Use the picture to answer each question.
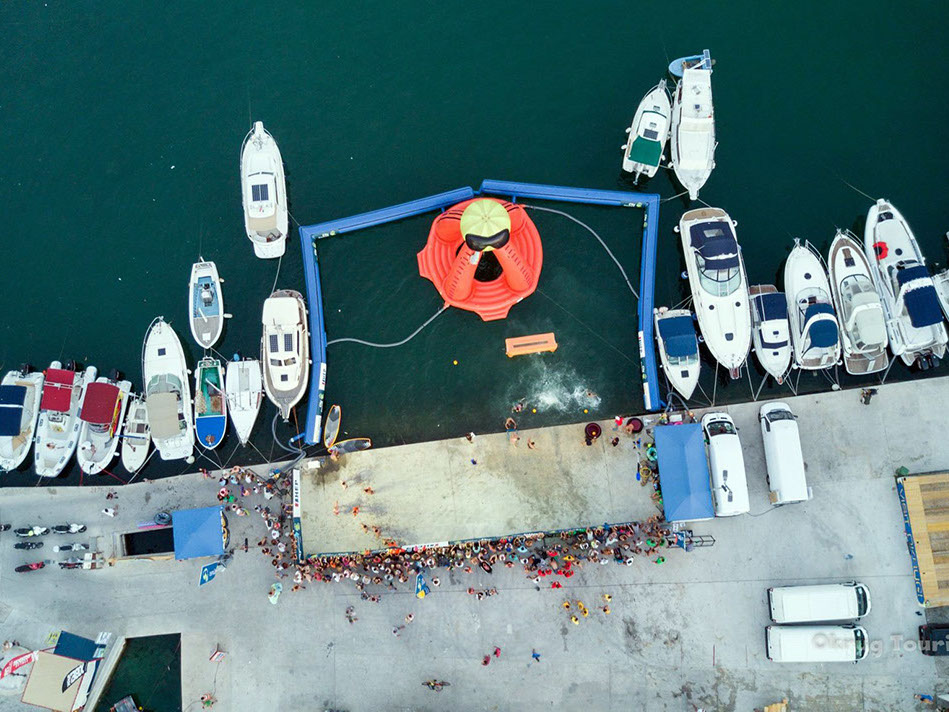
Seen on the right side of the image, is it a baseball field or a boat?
boat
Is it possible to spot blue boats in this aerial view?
Yes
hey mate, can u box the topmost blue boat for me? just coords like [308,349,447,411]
[659,54,715,82]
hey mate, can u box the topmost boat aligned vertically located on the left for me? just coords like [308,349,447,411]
[241,105,303,290]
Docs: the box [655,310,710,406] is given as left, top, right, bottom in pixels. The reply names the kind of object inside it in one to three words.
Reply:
boat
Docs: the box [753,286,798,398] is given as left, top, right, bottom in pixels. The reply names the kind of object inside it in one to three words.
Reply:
boat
